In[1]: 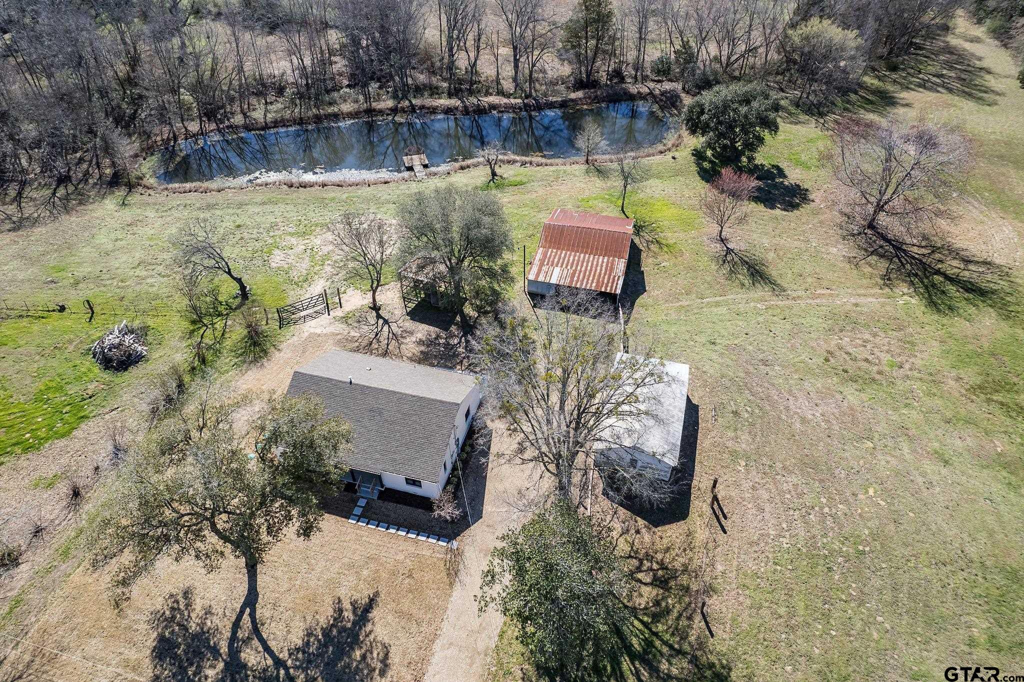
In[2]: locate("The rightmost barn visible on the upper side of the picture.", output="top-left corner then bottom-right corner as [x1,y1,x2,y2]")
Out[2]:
[528,209,636,307]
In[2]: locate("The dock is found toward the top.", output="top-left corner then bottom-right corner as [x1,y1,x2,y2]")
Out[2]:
[401,154,430,177]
